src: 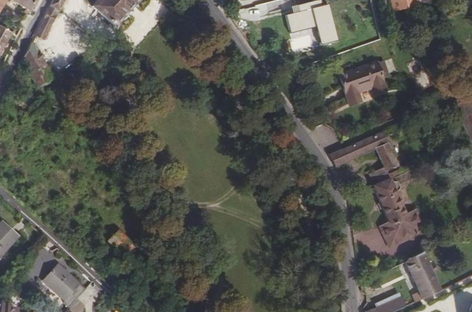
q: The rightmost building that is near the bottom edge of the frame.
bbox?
[406,252,442,302]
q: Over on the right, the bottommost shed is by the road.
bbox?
[365,292,406,312]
